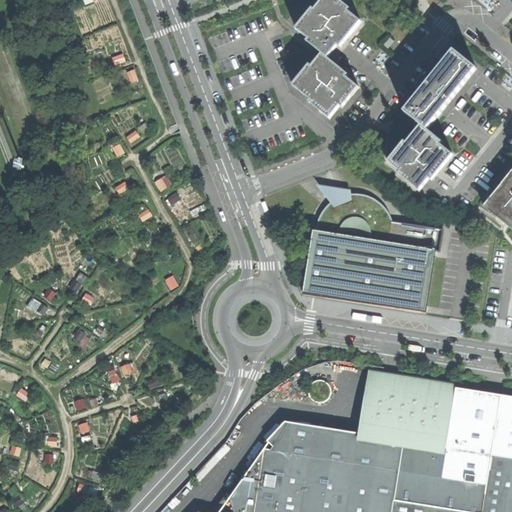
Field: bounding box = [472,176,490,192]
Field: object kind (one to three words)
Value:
vehicle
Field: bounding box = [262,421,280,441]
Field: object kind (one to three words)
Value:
vehicle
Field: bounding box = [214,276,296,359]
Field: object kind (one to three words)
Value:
roundabout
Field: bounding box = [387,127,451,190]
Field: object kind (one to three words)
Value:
building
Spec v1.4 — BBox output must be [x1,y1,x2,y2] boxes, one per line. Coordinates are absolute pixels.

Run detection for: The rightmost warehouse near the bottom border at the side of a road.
[219,370,512,512]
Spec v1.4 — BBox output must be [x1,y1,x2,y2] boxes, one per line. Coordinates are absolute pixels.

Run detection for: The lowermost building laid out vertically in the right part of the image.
[484,168,512,230]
